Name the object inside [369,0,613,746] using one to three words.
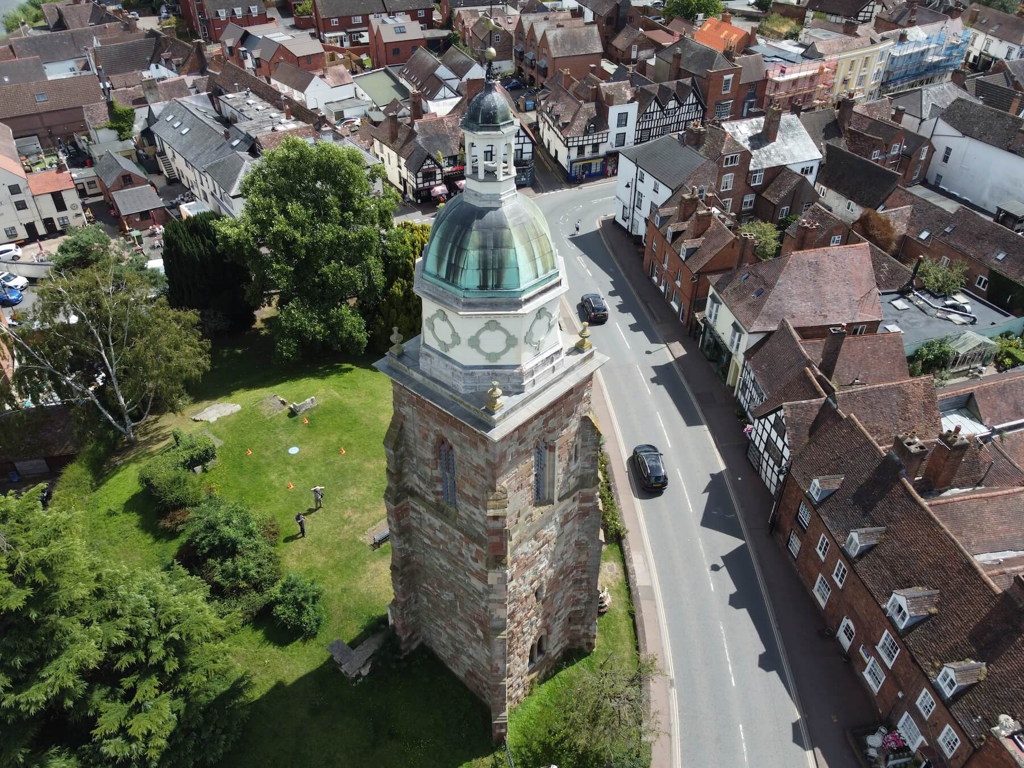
building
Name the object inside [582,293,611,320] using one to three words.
car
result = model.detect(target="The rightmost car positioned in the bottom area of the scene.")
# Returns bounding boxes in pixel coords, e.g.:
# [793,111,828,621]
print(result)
[633,447,674,496]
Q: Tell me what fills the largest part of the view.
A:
buildings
